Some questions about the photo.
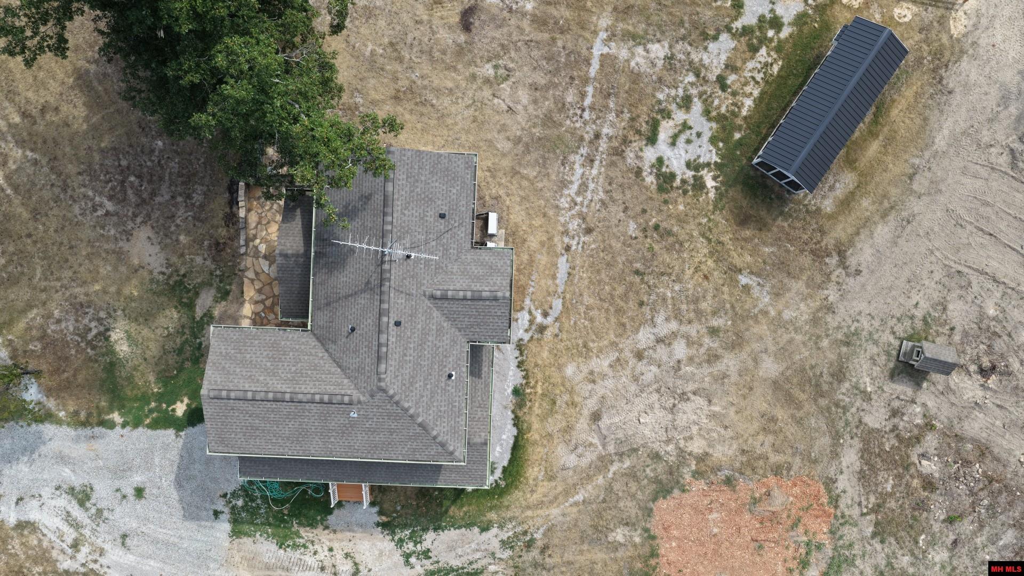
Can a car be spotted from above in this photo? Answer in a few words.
No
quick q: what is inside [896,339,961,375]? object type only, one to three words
shed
